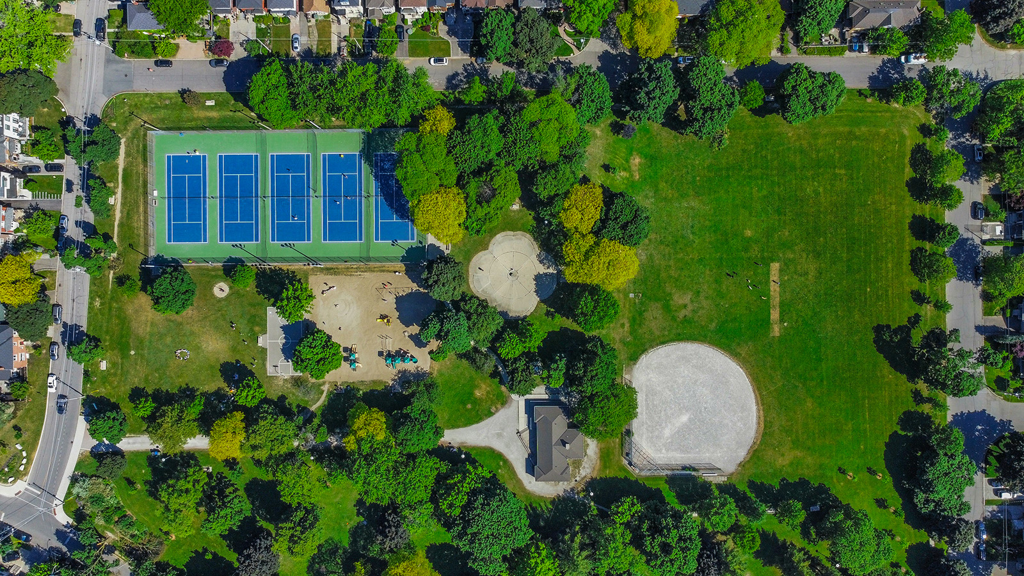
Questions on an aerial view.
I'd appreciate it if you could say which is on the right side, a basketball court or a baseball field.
baseball field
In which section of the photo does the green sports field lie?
right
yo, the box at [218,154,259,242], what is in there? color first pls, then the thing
blue tennis court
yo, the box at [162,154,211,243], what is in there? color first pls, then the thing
blue tennis court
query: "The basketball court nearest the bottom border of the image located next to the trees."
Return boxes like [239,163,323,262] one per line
[267,307,302,375]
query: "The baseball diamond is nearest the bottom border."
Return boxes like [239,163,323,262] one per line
[624,340,760,476]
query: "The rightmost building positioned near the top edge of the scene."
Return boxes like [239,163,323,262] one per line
[844,0,921,34]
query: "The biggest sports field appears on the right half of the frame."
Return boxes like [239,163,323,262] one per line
[618,102,922,477]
